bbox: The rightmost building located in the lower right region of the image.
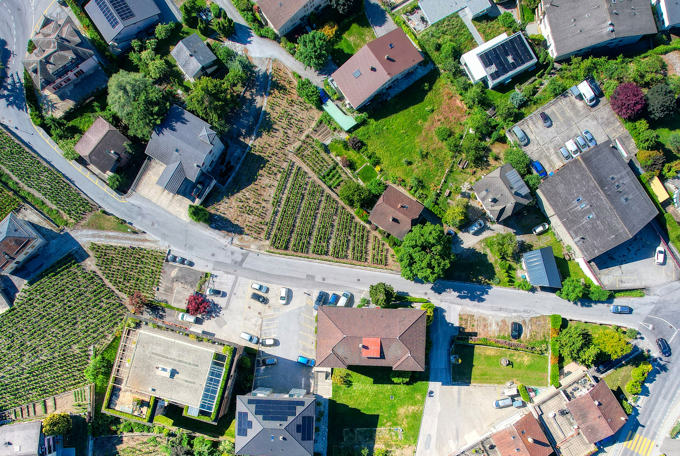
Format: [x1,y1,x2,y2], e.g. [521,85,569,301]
[565,379,628,444]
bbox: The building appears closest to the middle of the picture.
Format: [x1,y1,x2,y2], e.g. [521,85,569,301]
[368,183,424,239]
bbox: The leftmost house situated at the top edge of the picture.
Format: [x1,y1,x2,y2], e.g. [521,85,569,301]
[23,16,100,94]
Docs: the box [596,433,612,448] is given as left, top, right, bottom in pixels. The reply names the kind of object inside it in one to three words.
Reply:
car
